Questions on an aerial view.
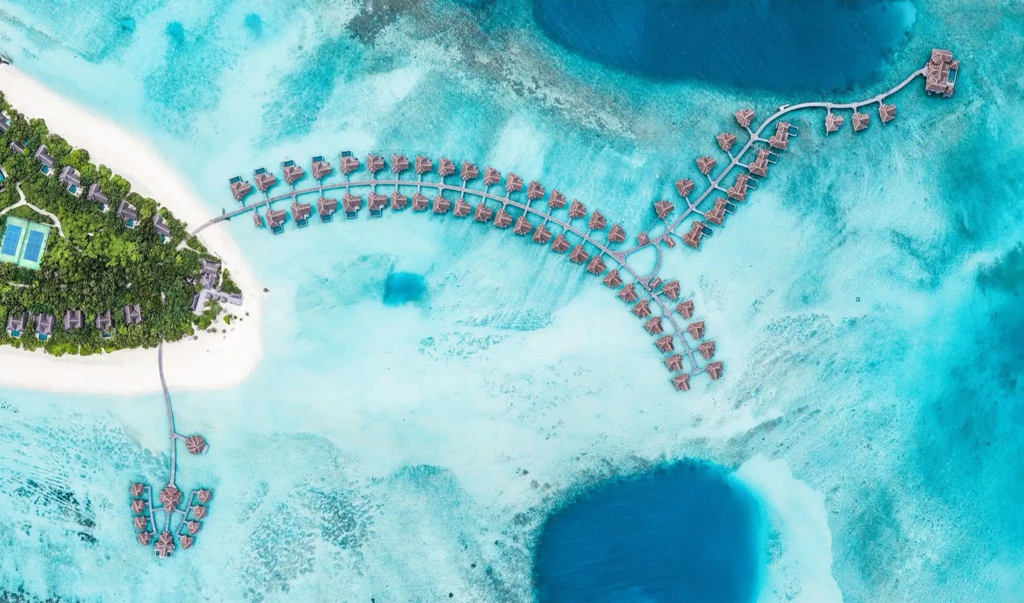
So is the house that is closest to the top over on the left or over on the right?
right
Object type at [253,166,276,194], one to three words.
house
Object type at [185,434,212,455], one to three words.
building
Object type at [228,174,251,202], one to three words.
house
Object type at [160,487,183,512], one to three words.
building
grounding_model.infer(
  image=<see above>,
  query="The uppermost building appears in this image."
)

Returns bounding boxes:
[921,48,960,98]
